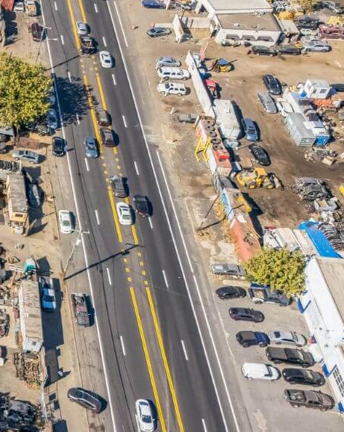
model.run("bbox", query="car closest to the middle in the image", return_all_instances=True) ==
[134,194,152,218]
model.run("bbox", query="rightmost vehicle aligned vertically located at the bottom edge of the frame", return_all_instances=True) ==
[135,396,157,432]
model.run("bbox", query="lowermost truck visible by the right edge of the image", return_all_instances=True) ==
[282,388,336,412]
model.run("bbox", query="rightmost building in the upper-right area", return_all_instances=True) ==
[302,79,331,105]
